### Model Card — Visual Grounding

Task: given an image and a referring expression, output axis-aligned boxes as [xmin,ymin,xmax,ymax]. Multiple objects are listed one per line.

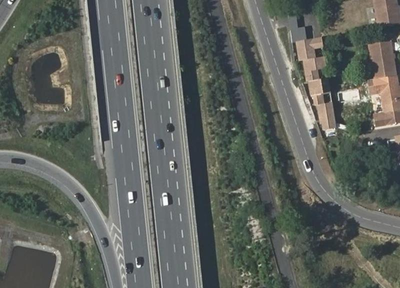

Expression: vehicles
[101,236,108,248]
[143,6,149,16]
[304,159,312,172]
[336,124,348,130]
[128,191,134,204]
[366,138,378,145]
[75,192,84,203]
[158,76,166,89]
[126,262,132,274]
[112,120,118,132]
[156,138,162,150]
[12,158,24,164]
[116,74,122,85]
[169,160,175,172]
[162,192,168,206]
[166,122,172,133]
[136,256,142,268]
[310,127,316,138]
[154,8,160,20]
